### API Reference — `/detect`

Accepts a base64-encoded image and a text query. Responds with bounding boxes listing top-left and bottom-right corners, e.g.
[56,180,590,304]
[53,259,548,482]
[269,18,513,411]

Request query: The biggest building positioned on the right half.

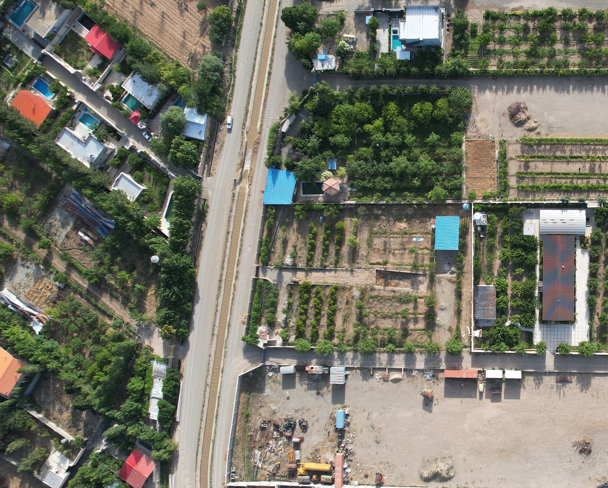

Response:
[543,236,574,320]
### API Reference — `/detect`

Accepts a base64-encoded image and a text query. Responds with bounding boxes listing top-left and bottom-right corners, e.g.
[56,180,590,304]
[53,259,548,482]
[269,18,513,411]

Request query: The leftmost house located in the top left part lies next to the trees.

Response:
[12,90,58,124]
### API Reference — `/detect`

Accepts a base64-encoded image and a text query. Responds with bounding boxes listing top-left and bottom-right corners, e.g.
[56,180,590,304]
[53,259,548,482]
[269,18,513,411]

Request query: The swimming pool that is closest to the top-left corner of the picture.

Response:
[6,0,36,28]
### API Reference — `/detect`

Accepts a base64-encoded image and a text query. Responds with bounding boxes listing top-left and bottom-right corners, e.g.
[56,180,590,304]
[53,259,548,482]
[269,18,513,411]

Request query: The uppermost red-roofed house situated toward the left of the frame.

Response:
[85,25,121,61]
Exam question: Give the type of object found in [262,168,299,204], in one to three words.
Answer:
building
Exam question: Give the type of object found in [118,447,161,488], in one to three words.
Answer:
house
